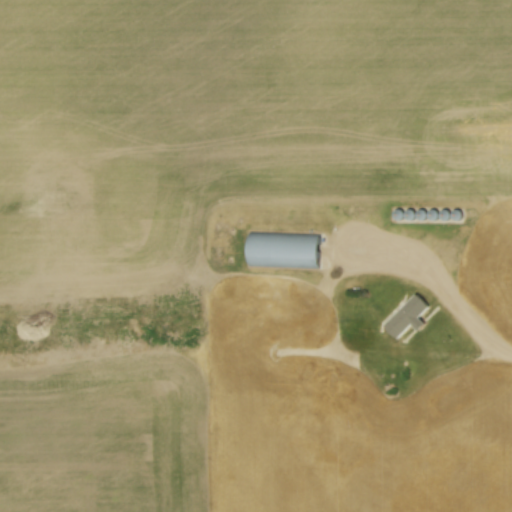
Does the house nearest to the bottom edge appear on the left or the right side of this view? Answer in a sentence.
The house nearest to the bottom edge appears in the right half of the scene.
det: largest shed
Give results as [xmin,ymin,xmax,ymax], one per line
[245,232,321,269]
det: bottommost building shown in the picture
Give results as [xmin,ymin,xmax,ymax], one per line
[385,293,430,340]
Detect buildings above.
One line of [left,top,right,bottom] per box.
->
[245,232,321,269]
[385,293,430,340]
